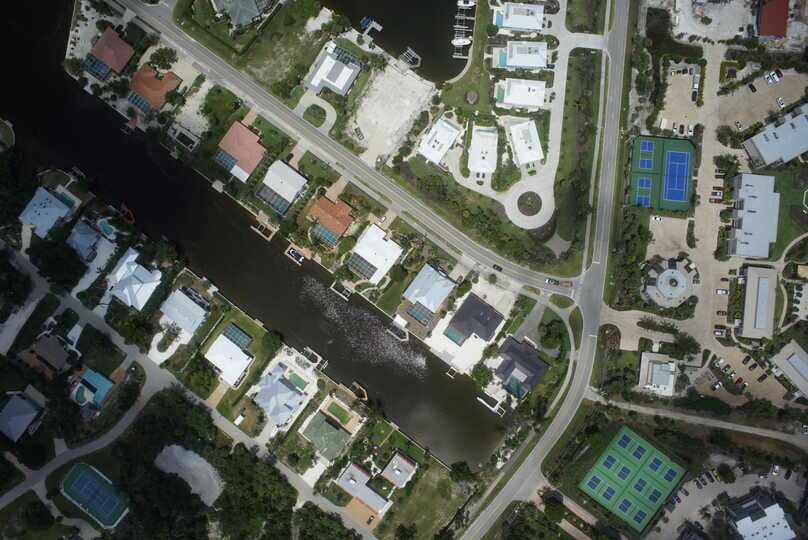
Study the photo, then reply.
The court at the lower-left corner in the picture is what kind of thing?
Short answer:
tennis court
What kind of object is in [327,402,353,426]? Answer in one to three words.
swimming pool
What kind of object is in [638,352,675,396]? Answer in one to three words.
building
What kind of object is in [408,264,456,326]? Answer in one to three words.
house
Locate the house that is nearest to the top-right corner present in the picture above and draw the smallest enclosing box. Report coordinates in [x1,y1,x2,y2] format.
[754,0,789,37]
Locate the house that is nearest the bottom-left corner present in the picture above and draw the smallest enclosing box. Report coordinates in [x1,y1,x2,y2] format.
[0,384,49,442]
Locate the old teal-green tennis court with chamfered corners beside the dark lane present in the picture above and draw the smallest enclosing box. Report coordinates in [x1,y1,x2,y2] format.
[63,463,127,527]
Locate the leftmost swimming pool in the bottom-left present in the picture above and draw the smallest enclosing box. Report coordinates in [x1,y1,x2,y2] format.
[72,383,94,406]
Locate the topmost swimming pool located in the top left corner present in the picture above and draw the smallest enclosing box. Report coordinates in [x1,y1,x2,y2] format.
[82,53,110,80]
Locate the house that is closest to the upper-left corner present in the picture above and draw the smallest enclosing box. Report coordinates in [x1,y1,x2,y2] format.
[82,28,134,81]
